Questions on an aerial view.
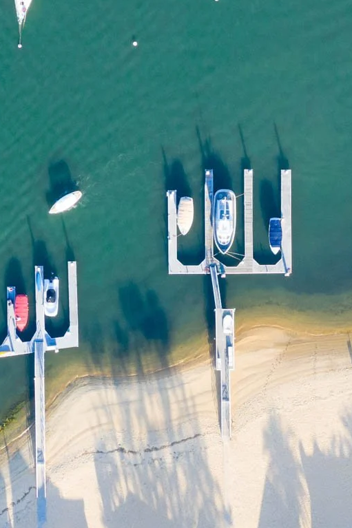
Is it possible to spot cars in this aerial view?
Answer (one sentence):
No, no car is visible in the scene.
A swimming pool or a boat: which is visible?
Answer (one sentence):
The one in the frame is a boat.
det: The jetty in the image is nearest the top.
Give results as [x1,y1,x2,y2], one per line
[167,168,293,274]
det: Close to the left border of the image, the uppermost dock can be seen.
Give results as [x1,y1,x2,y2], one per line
[0,260,79,358]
